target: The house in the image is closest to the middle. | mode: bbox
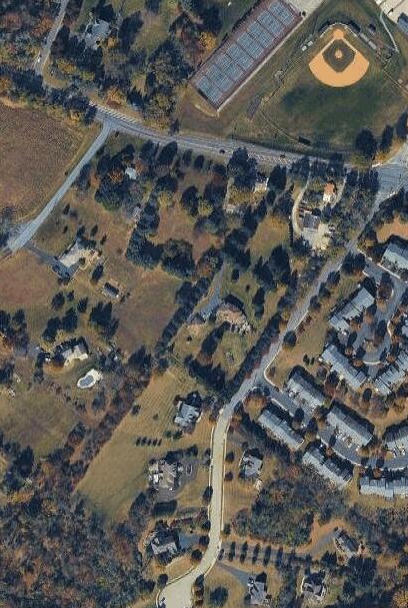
[217,300,249,333]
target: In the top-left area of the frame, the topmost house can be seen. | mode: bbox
[84,18,111,45]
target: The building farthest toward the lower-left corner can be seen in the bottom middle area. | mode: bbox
[149,533,183,559]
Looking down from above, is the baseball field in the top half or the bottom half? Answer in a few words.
top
